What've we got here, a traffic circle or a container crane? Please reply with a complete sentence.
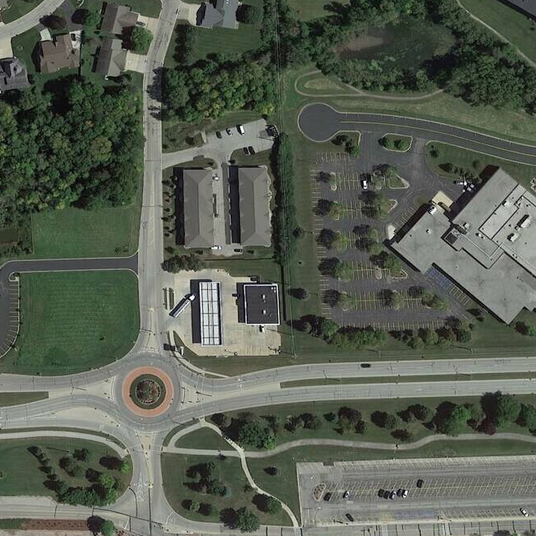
Looking from above, you can make out a traffic circle.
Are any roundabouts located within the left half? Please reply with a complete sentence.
Yes, a roundabout shows up within the left half.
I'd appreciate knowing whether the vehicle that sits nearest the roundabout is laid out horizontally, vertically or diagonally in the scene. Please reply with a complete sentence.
What the image shows is the vehicle that sits nearest the roundabout lying diagonally.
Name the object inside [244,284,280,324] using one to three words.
building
